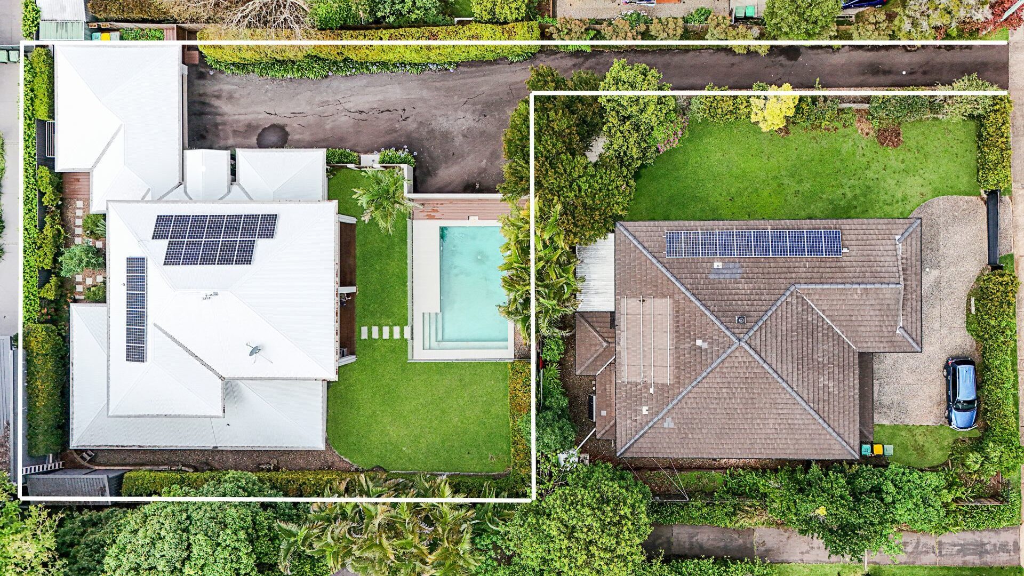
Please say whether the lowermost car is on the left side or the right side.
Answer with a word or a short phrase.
right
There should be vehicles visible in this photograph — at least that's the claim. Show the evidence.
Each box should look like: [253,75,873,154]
[840,0,894,15]
[941,359,980,434]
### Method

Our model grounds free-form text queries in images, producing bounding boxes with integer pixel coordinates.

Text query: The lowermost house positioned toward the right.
[574,216,923,461]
